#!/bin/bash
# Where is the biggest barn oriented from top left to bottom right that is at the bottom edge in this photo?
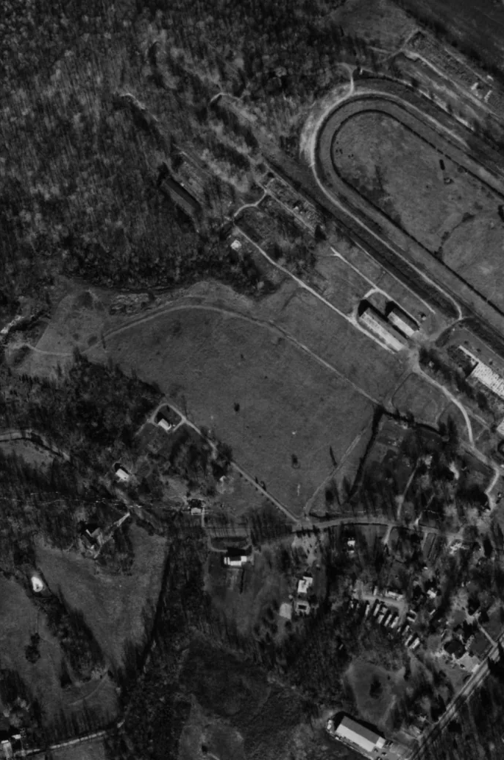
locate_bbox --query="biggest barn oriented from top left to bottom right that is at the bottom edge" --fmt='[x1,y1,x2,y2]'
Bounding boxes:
[335,716,379,753]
